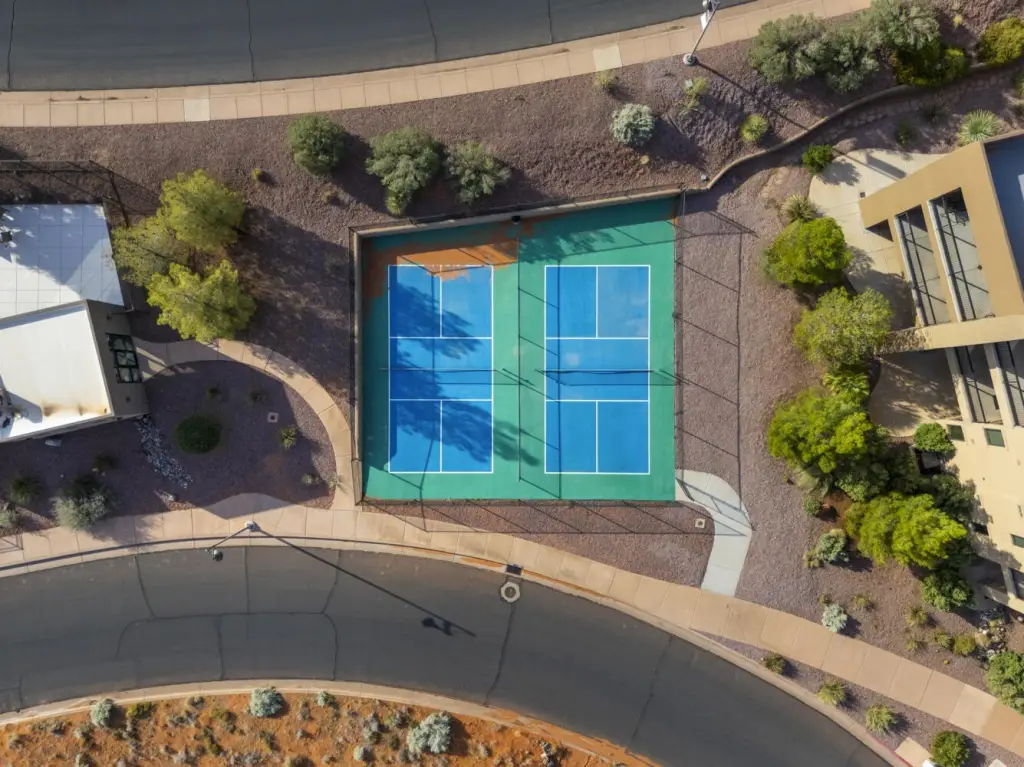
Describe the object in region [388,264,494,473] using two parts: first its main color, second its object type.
blue sports court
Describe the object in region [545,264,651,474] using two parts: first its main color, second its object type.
blue sports court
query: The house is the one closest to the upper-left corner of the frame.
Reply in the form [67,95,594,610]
[0,205,151,440]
